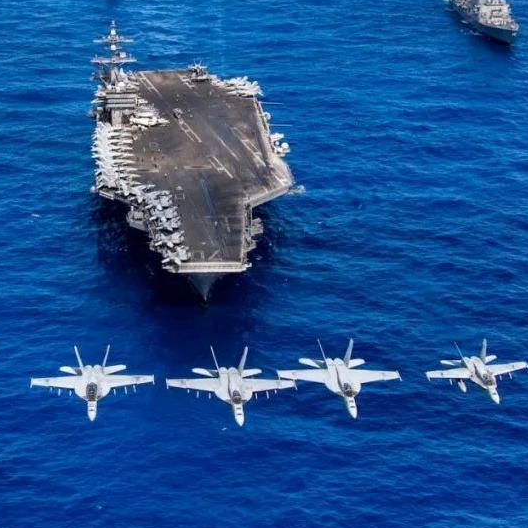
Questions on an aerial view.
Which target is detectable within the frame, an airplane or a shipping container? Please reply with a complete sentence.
I can see an airplane in this picture.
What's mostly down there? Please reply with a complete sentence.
What you mostly see from above here is water.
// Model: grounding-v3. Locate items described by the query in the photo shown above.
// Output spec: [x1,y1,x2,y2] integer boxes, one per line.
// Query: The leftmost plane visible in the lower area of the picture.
[31,343,154,420]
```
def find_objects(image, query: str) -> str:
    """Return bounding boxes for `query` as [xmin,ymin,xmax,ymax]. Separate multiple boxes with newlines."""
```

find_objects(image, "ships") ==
[84,20,309,304]
[455,0,520,47]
